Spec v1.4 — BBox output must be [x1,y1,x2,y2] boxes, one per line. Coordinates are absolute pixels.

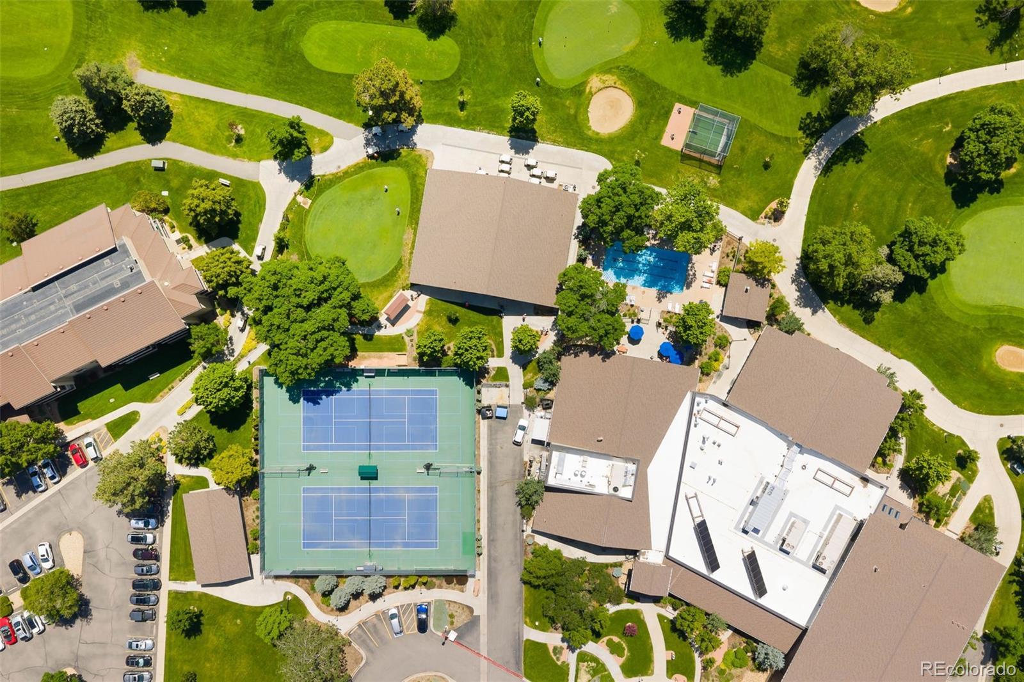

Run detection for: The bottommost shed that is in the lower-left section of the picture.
[184,488,254,585]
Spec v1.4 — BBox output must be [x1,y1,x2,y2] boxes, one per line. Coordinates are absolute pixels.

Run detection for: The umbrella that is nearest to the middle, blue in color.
[629,325,643,339]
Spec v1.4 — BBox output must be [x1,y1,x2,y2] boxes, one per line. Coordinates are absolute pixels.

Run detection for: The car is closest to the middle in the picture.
[512,418,528,447]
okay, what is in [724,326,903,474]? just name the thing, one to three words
building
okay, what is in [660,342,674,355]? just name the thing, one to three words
umbrella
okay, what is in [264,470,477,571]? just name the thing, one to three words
tennis court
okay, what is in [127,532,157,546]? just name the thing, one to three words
car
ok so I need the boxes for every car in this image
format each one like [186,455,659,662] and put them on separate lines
[130,517,160,530]
[416,603,429,633]
[23,549,44,576]
[134,563,161,576]
[125,670,153,682]
[0,616,16,644]
[130,593,160,607]
[127,607,158,622]
[71,442,90,469]
[24,610,44,636]
[127,532,157,546]
[38,541,56,569]
[133,547,161,561]
[10,557,31,585]
[388,607,404,637]
[133,502,162,515]
[12,613,32,642]
[125,654,154,669]
[44,458,64,485]
[512,418,528,447]
[36,610,55,628]
[132,578,163,592]
[85,435,104,459]
[127,638,156,652]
